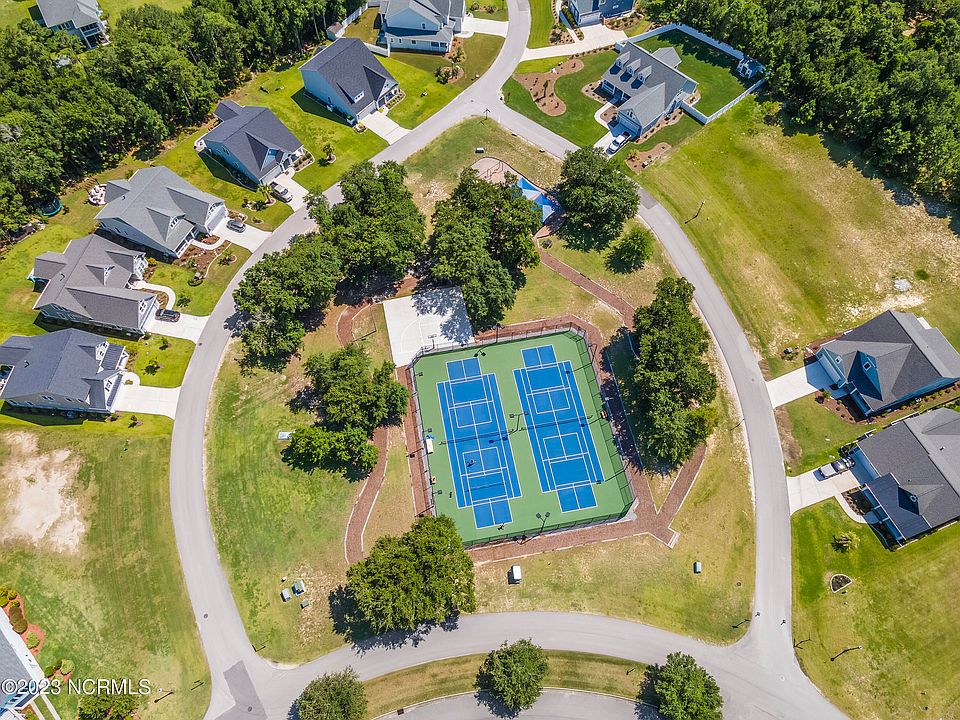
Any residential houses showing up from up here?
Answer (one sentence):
Yes, I can see a residential house in this picture.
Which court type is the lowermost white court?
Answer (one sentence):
Looking closely, the lowermost white court is a basketball court.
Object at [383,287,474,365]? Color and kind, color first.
white basketball court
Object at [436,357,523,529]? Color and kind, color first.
blue tennis court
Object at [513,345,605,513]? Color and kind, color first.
blue tennis court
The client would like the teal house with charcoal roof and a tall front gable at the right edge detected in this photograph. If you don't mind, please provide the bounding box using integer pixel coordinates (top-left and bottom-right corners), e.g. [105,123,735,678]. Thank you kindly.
[816,309,960,416]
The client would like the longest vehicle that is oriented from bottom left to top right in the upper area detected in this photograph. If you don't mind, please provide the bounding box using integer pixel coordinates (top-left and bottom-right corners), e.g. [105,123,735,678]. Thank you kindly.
[609,134,630,154]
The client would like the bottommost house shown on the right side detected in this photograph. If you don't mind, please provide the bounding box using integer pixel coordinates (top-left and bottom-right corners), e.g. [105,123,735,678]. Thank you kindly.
[851,400,960,545]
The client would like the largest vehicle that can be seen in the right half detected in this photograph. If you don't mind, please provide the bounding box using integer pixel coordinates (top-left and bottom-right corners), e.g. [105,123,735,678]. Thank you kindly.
[820,458,855,476]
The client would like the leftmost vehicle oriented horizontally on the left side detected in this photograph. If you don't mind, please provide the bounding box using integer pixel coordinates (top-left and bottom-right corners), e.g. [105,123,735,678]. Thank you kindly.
[153,309,180,322]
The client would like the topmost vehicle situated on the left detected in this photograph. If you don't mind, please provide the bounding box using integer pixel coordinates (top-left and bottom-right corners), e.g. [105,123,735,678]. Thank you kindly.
[269,179,292,198]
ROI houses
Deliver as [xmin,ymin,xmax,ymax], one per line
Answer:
[851,400,960,545]
[297,38,399,124]
[93,166,228,256]
[0,330,133,415]
[0,608,55,720]
[816,309,960,416]
[562,0,638,28]
[30,233,160,336]
[201,100,303,185]
[602,41,702,138]
[382,0,462,52]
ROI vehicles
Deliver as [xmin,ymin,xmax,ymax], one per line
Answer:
[820,458,855,476]
[269,179,292,198]
[609,134,630,154]
[224,217,247,232]
[153,309,180,322]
